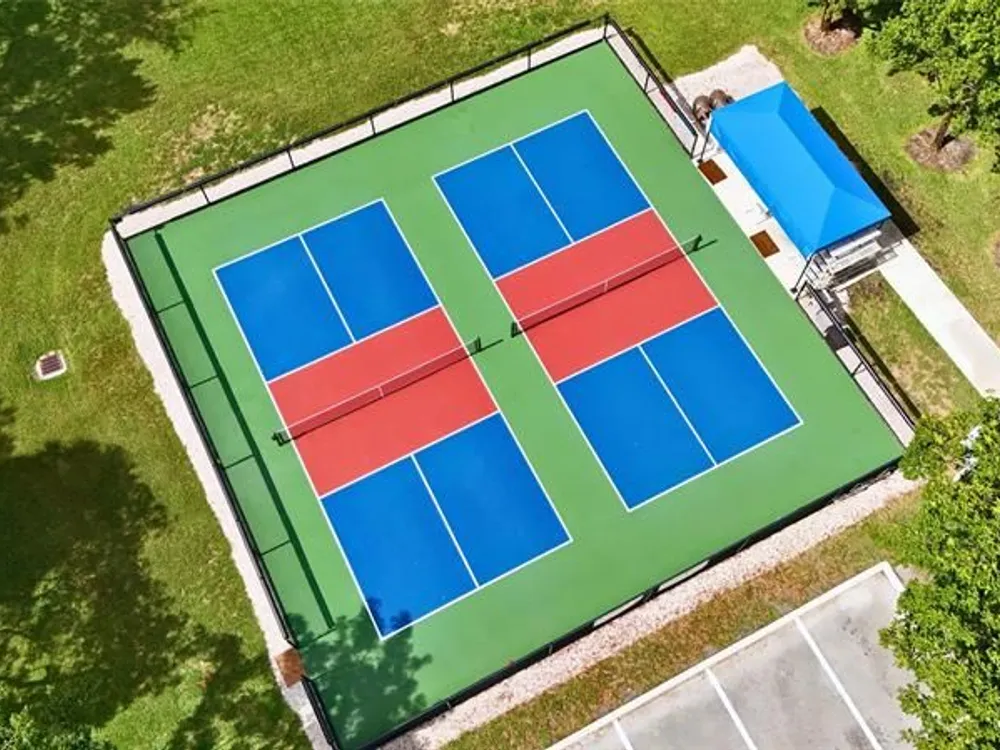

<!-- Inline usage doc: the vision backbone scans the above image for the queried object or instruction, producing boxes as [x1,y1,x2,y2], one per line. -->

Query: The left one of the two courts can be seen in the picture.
[214,198,572,640]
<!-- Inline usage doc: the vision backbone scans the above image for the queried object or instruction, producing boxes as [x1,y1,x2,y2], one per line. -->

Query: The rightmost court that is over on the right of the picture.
[433,111,801,511]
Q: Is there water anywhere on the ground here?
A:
No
